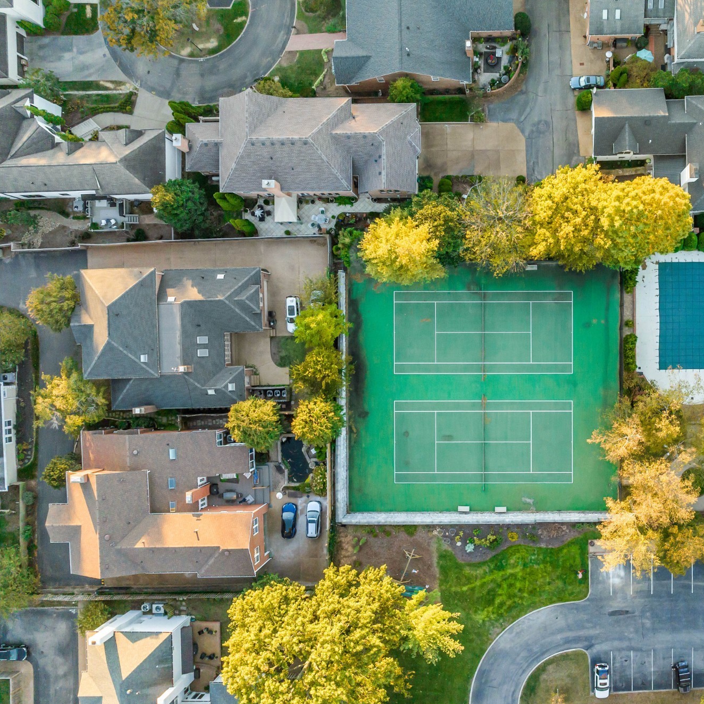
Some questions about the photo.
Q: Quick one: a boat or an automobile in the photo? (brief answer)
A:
automobile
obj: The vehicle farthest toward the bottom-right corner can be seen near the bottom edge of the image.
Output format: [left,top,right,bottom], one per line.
[673,658,692,693]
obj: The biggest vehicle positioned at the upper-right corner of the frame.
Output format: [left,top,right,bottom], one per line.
[570,72,605,90]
